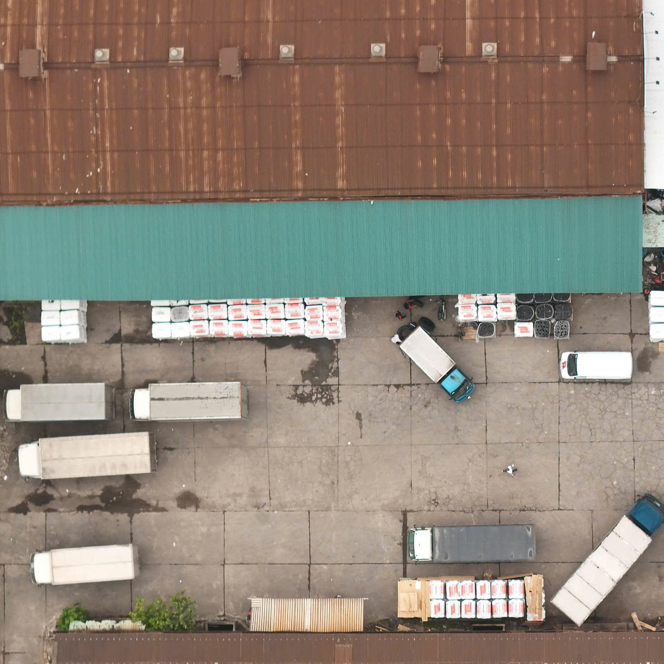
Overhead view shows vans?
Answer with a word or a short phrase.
Yes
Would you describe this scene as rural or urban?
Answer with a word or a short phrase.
urban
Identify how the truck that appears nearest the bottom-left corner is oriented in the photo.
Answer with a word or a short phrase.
from side to side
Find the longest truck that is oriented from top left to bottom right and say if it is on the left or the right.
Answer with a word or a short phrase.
right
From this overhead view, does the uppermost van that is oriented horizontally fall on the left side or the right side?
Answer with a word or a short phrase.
right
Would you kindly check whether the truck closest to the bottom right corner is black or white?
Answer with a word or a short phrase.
white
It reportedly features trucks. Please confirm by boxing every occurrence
[27,543,143,589]
[399,326,480,407]
[130,381,248,423]
[551,487,664,625]
[16,431,160,482]
[408,522,537,564]
[0,383,118,426]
